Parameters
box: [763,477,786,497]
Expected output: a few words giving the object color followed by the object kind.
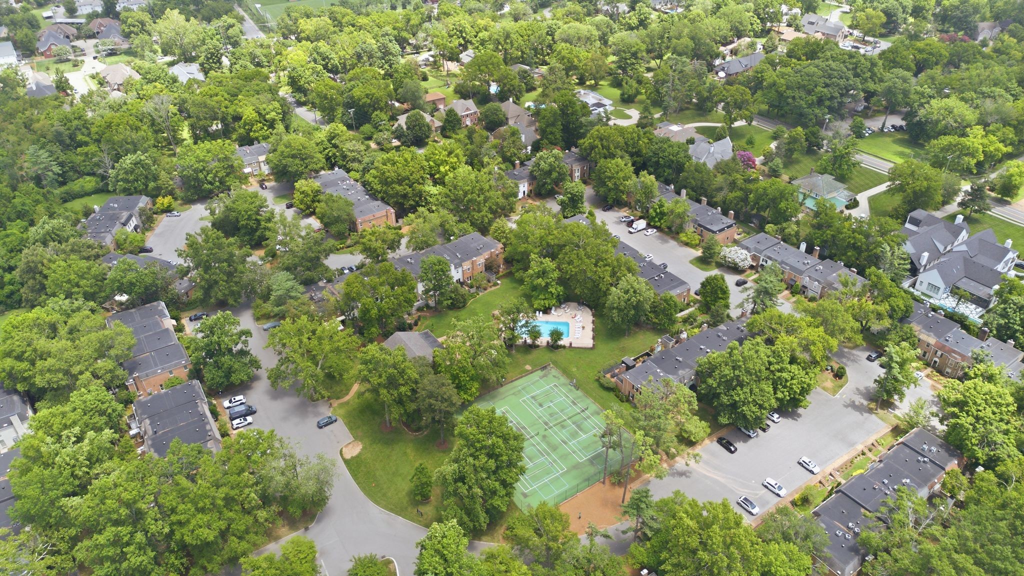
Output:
white car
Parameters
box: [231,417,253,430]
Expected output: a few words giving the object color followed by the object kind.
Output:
white vehicle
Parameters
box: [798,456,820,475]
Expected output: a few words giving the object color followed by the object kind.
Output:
white car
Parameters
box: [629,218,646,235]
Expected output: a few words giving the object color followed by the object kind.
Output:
white vehicle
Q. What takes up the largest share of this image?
trees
